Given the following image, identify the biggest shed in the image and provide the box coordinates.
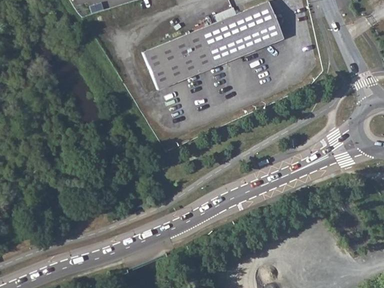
[141,1,284,90]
